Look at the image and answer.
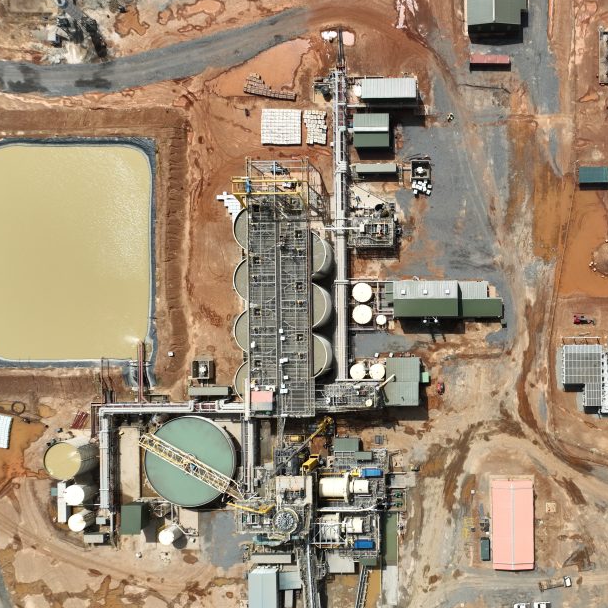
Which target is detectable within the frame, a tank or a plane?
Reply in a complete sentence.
Of the two, only a tank appears.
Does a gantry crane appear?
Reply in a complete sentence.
Yes, a gantry crane is visible in the scene.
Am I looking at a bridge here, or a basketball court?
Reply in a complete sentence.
This aerial view contains a bridge.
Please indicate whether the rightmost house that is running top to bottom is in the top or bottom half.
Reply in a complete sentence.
It is in the bottom half that the rightmost house that is running top to bottom appears.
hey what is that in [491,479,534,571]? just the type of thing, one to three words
house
